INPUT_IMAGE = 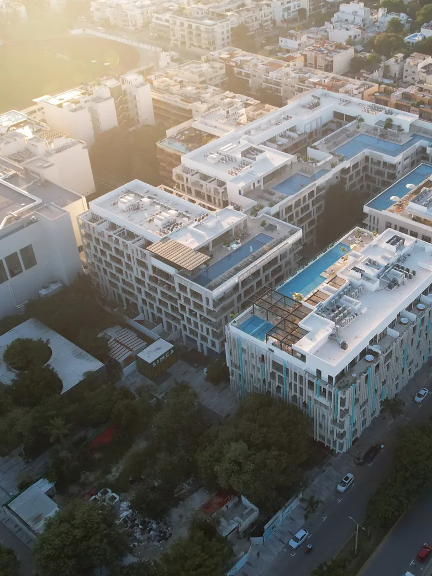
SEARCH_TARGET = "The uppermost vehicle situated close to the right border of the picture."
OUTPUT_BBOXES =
[412,387,431,404]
